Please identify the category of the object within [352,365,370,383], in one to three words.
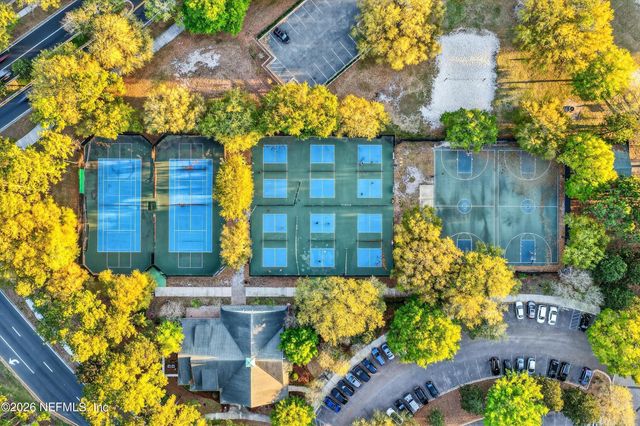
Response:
car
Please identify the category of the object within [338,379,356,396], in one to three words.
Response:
car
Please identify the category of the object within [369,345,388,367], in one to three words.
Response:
vehicle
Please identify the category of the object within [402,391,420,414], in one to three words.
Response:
vehicle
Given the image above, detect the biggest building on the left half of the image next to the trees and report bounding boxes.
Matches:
[177,305,289,410]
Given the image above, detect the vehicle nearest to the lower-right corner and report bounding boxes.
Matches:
[579,365,592,385]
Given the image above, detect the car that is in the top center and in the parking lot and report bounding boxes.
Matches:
[273,27,291,44]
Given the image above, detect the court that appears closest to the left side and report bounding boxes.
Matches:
[84,139,154,273]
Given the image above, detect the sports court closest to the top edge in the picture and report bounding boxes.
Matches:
[421,29,498,127]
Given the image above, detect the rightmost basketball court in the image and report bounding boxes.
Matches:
[497,149,559,264]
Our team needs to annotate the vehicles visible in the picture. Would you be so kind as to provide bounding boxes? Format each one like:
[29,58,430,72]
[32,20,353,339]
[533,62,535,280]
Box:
[558,360,569,380]
[515,354,524,373]
[331,387,349,405]
[16,92,31,107]
[536,304,547,324]
[352,365,370,383]
[514,300,524,319]
[393,397,409,417]
[338,379,356,396]
[579,312,593,330]
[402,391,420,414]
[386,406,402,425]
[361,356,378,374]
[526,355,536,374]
[323,396,341,412]
[547,305,558,325]
[414,385,429,405]
[503,355,513,375]
[369,345,388,367]
[579,365,592,385]
[273,27,291,44]
[345,371,362,389]
[489,355,500,375]
[526,299,536,319]
[548,358,559,377]
[424,379,439,399]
